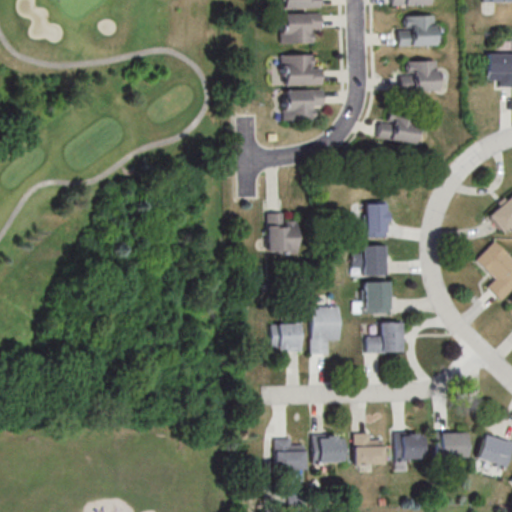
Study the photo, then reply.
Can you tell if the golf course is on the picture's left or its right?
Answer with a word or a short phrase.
left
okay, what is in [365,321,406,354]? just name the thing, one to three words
house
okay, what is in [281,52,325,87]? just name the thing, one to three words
house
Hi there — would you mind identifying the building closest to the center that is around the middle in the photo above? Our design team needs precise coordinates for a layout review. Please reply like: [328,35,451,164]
[266,212,302,256]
